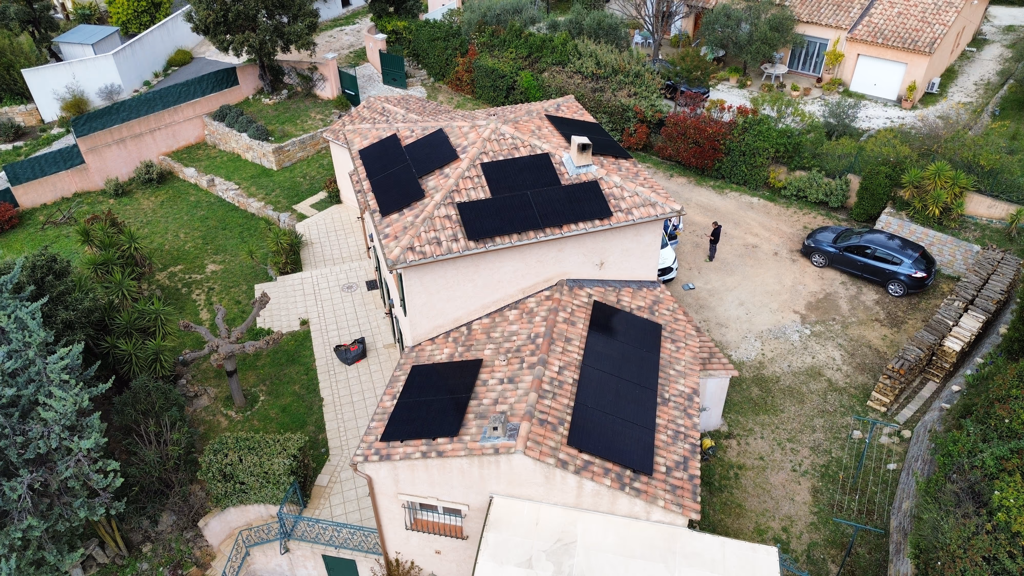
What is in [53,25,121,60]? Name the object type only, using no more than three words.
shed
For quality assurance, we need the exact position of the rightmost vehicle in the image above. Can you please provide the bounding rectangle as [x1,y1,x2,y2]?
[801,225,944,298]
